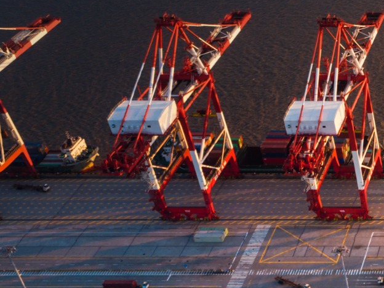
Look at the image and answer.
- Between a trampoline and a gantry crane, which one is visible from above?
gantry crane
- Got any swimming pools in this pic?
No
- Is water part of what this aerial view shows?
Yes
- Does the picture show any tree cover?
No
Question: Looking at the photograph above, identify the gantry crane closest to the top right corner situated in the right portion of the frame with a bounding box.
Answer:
[283,9,384,220]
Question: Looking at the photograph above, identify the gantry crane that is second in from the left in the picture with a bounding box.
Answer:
[103,8,250,220]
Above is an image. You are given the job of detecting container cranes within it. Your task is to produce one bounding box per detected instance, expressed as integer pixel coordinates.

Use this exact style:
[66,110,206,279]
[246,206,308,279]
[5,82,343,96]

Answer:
[283,9,384,220]
[0,10,61,179]
[103,8,250,220]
